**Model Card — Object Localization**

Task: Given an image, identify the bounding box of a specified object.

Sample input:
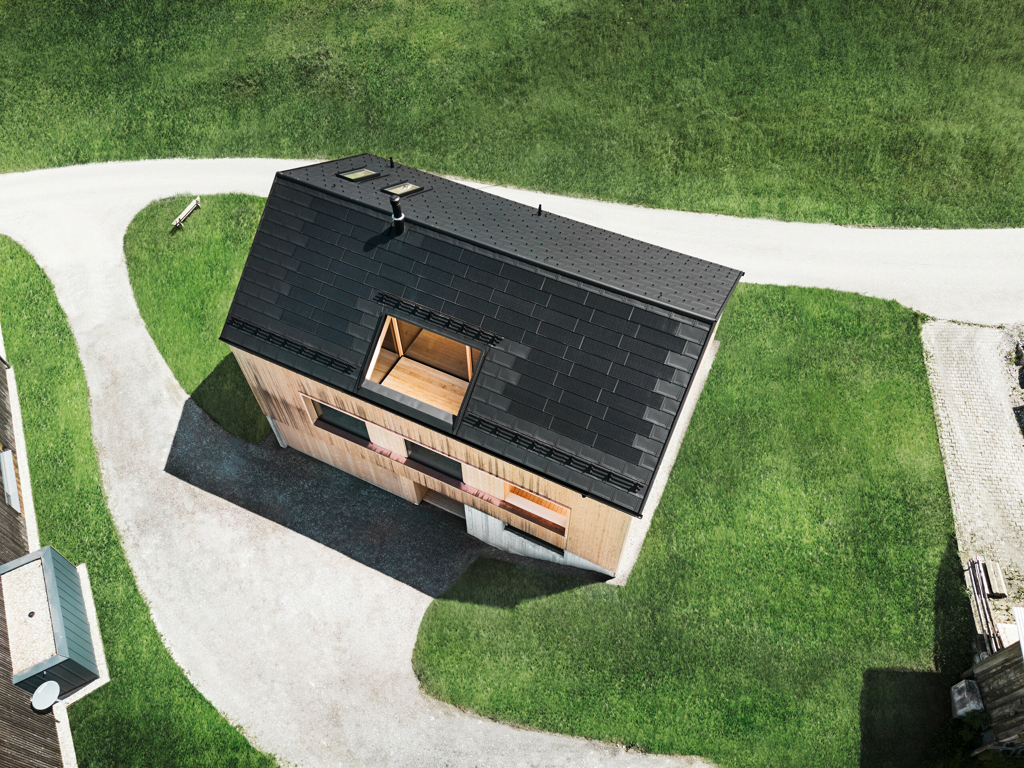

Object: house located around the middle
[216,151,746,575]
